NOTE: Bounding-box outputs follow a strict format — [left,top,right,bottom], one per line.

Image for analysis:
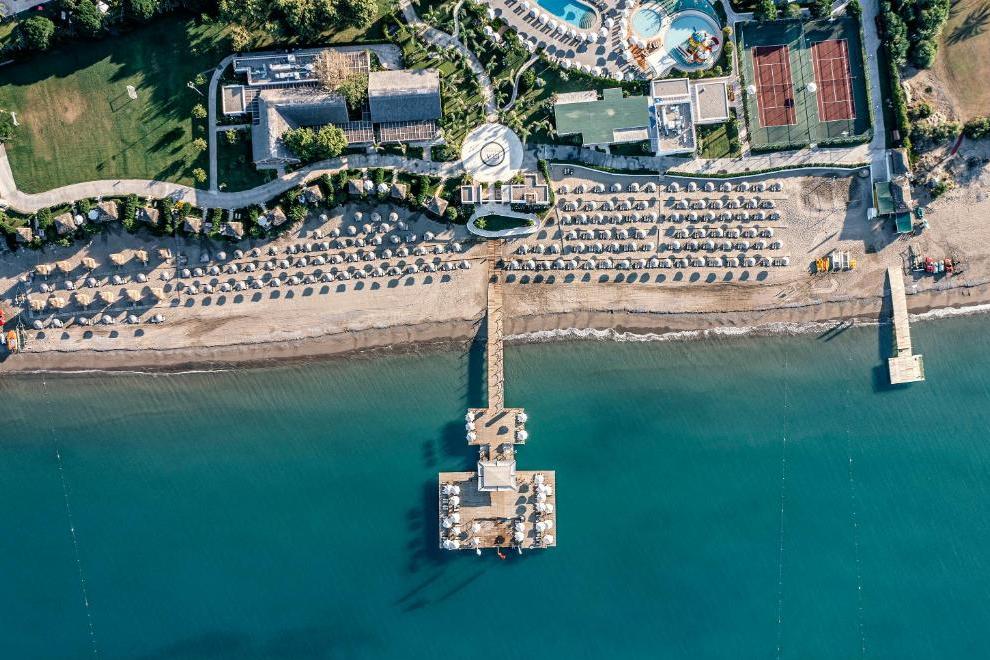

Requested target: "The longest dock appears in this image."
[439,244,556,549]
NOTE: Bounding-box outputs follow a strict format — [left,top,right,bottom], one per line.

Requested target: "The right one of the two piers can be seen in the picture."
[887,265,926,384]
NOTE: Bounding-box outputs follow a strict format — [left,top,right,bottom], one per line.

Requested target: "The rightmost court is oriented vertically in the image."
[803,16,867,141]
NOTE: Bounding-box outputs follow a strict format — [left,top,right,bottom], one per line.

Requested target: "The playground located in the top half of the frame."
[675,24,719,63]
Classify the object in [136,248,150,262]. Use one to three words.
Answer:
umbrella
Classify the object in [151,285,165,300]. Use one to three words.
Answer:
umbrella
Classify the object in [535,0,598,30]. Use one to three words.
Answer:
swimming pool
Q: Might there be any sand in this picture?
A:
Yes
